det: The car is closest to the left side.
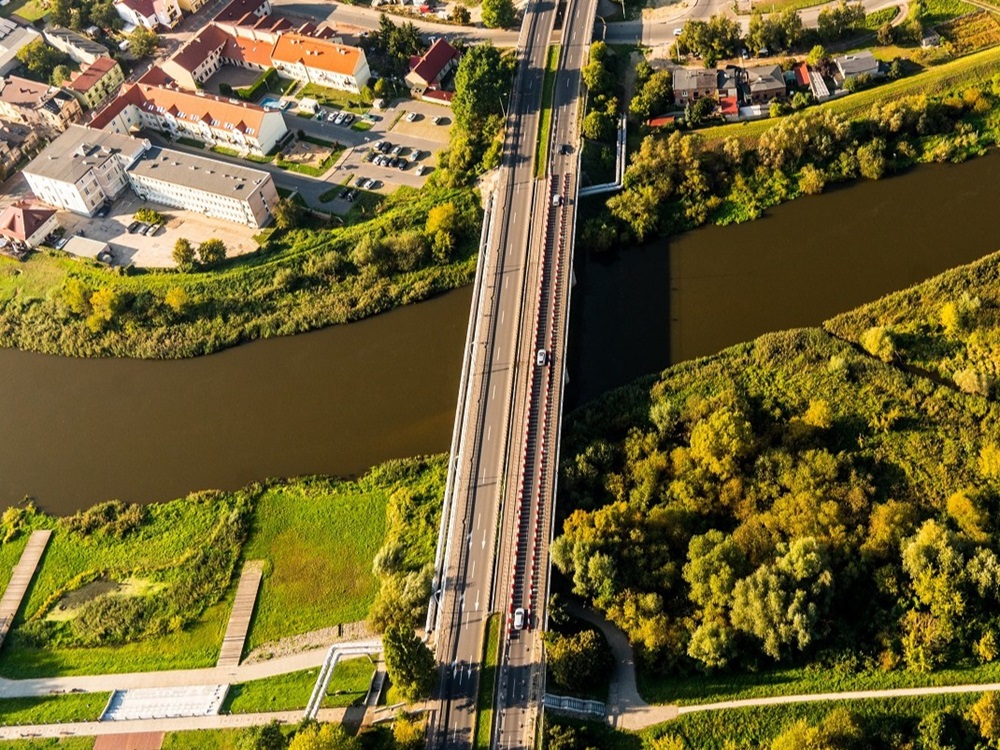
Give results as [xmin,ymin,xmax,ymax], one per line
[53,236,68,250]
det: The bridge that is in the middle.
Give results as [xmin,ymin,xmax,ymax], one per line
[437,169,580,621]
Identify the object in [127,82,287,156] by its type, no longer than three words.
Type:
house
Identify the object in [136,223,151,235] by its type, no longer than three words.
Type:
vehicle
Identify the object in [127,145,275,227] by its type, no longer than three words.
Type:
building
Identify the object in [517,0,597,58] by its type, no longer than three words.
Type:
overpass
